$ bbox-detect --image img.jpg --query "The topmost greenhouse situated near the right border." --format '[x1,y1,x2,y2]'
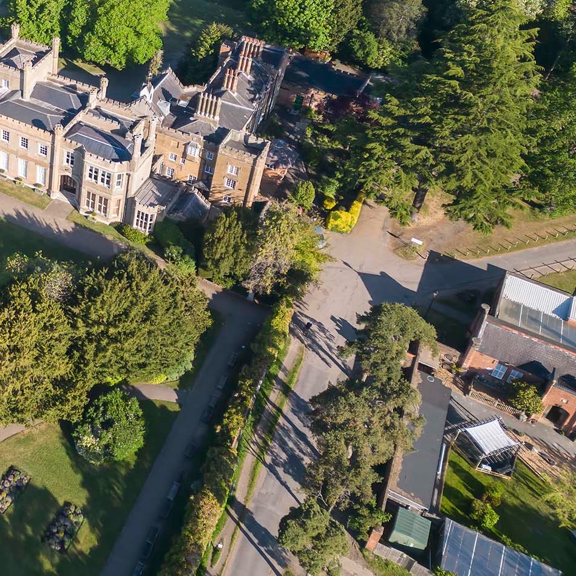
[489,265,576,347]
